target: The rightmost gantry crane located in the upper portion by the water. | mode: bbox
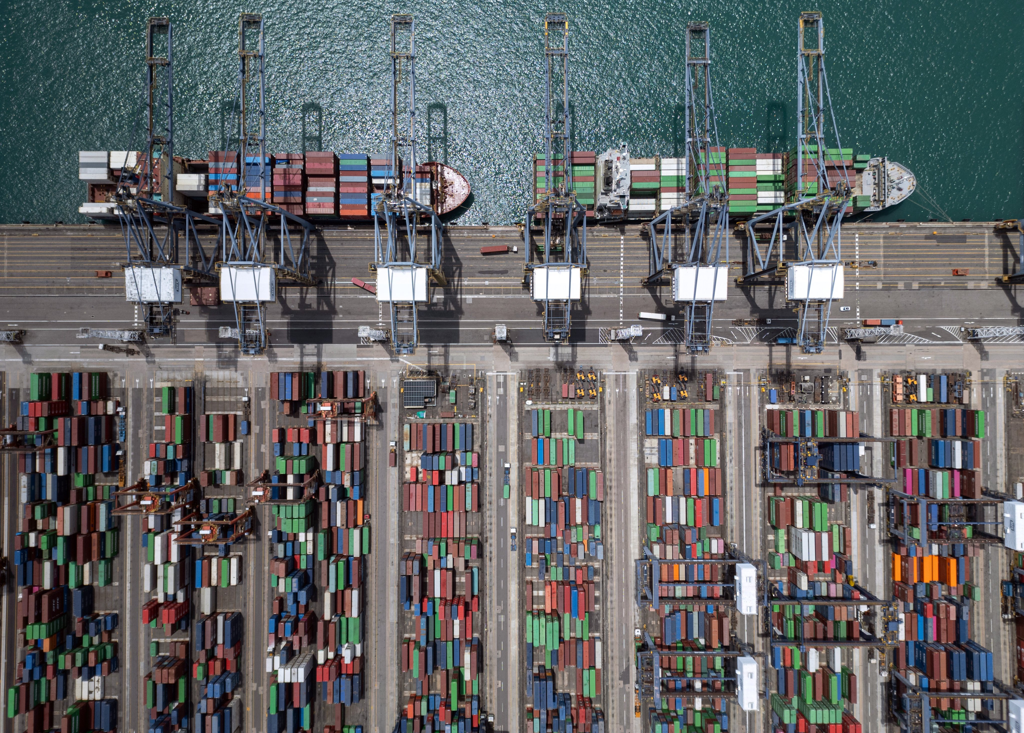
[987,217,1024,282]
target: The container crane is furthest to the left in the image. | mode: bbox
[0,422,63,454]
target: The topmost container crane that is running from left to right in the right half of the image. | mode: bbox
[763,423,903,490]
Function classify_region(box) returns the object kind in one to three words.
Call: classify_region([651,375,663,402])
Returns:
vehicle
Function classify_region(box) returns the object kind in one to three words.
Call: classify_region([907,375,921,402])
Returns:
work vehicle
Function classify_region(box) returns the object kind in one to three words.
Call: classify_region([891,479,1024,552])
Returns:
container crane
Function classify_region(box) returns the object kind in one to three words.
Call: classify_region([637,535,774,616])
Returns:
container crane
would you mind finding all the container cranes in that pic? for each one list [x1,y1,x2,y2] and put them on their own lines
[512,14,591,341]
[110,480,190,516]
[637,535,774,616]
[306,391,376,422]
[0,422,63,454]
[245,471,318,506]
[632,21,728,354]
[639,620,776,711]
[891,479,1024,552]
[373,15,459,355]
[766,573,913,655]
[219,16,330,356]
[728,12,847,354]
[896,658,1024,733]
[987,217,1024,282]
[120,23,242,343]
[763,423,903,490]
[170,508,249,546]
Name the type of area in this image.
port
